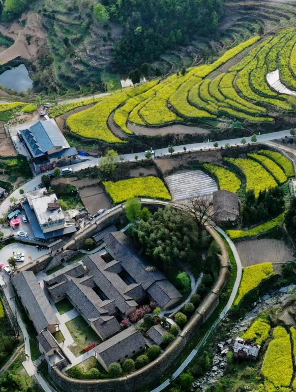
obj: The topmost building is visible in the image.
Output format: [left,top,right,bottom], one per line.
[1,124,79,173]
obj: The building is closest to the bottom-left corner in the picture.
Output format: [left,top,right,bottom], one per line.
[24,324,68,371]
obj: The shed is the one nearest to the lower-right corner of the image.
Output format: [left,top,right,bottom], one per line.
[235,337,260,364]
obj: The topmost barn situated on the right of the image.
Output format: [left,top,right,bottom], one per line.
[212,184,242,223]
